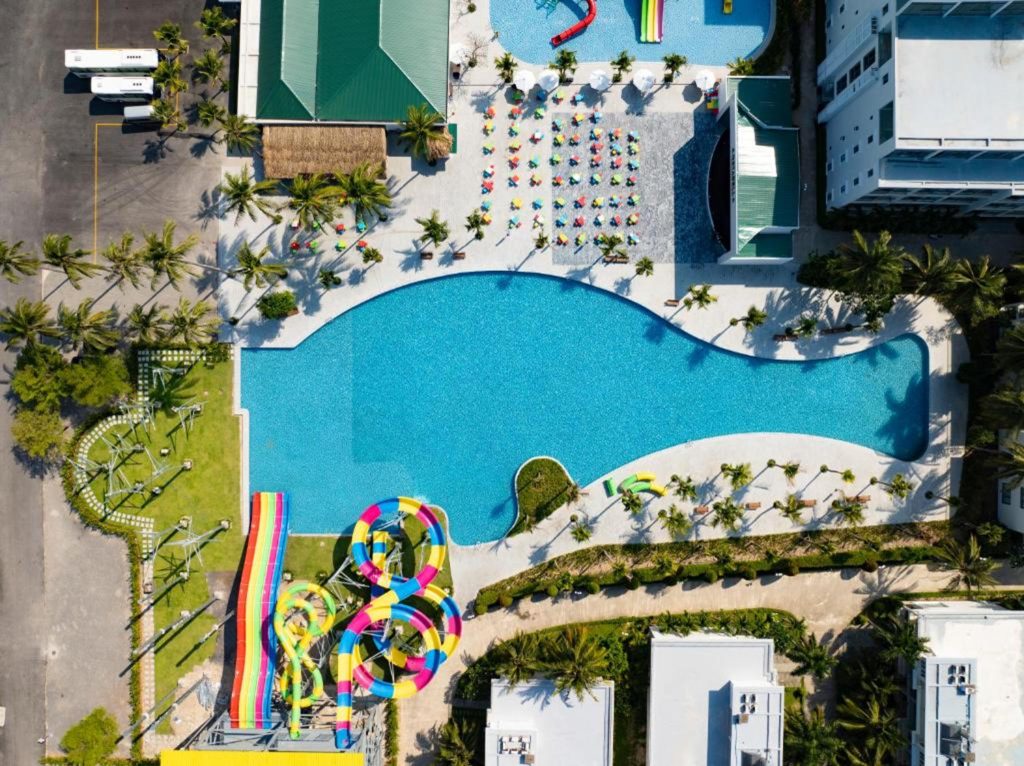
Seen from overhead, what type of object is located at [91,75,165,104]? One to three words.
bus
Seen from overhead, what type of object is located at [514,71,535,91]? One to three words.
umbrella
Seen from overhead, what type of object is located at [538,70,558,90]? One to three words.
umbrella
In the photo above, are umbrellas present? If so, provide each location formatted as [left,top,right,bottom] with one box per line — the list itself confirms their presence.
[634,71,654,91]
[514,71,535,91]
[449,44,468,65]
[696,70,716,90]
[538,70,558,90]
[589,70,608,90]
